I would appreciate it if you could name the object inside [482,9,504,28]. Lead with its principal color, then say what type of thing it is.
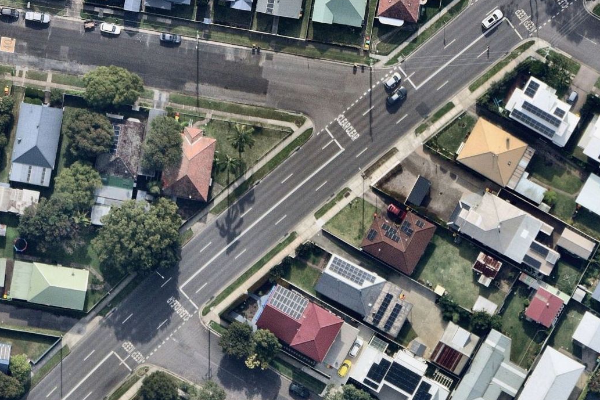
white car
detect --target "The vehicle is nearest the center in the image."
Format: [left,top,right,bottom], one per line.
[388,203,406,220]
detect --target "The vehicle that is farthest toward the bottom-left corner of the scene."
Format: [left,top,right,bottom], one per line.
[287,383,310,397]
